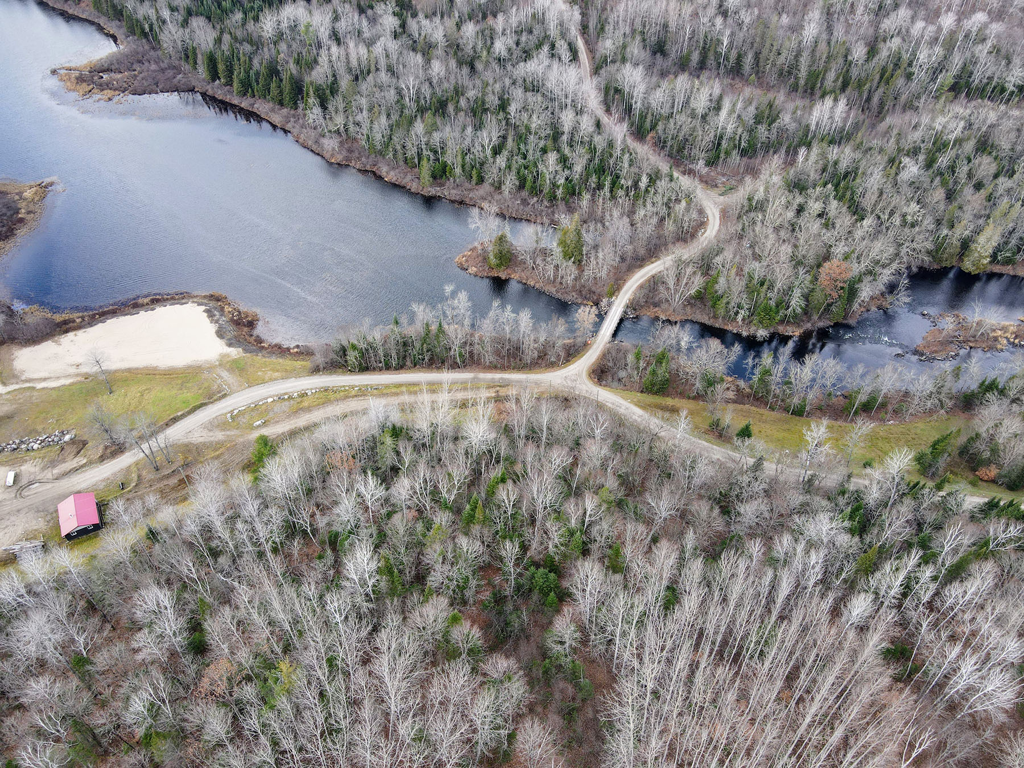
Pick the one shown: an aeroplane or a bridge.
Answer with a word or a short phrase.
bridge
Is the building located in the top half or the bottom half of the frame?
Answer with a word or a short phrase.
bottom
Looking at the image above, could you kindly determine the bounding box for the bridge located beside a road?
[590,295,627,341]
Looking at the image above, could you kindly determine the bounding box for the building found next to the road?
[55,488,115,538]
